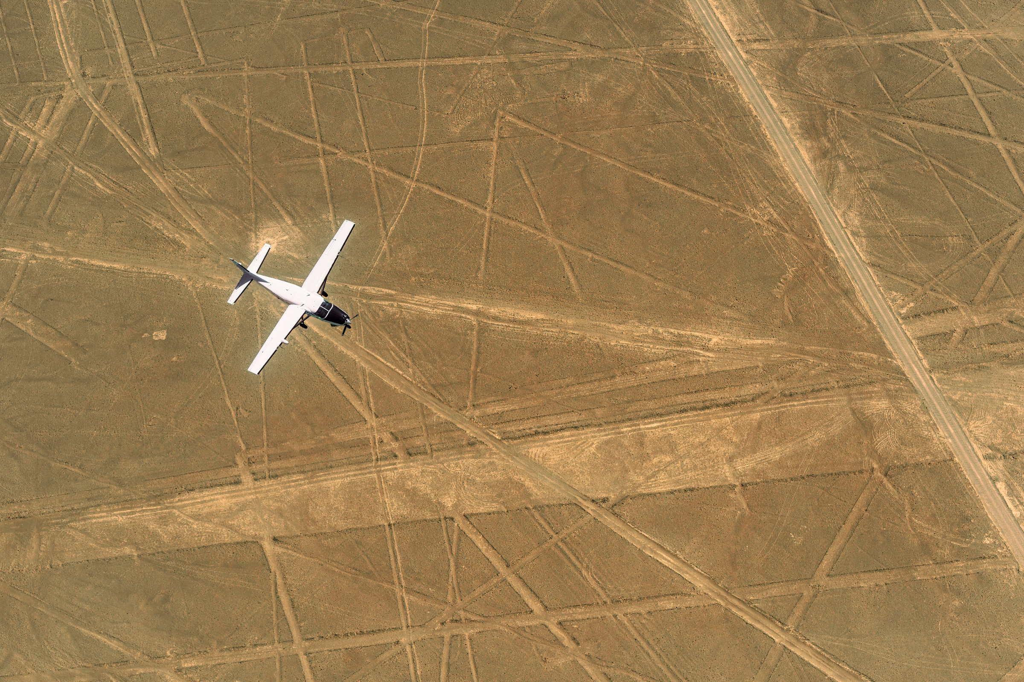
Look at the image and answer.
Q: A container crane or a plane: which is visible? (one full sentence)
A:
Visible in the photo is a plane.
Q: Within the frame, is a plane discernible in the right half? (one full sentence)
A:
No, there's no plane to be seen in the right half.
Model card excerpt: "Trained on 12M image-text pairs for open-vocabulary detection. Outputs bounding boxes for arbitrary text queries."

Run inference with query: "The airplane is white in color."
[228,220,358,376]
